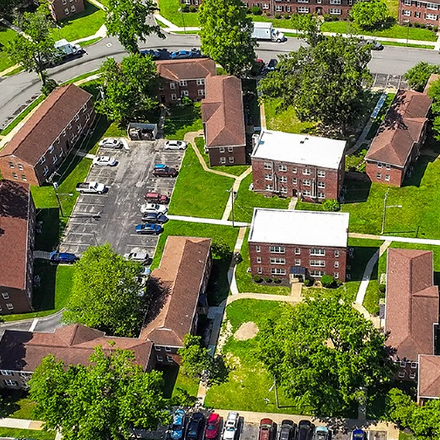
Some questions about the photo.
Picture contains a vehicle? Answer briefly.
Yes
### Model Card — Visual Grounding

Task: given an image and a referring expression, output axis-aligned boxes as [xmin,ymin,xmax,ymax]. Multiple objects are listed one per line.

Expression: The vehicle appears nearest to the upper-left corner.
[52,42,84,59]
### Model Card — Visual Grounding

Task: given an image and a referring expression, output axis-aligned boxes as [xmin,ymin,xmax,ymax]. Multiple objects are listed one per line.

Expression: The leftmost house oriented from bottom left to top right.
[0,84,94,186]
